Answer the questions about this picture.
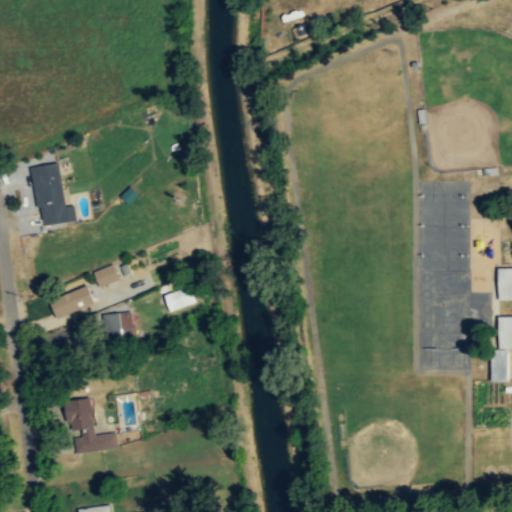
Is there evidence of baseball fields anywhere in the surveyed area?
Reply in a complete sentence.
Yes, there is a baseball field in the image.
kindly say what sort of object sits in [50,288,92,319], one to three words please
house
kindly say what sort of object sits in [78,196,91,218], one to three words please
swimming pool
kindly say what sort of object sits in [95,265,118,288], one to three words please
building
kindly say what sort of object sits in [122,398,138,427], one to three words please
swimming pool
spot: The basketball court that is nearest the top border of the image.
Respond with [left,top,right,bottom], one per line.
[420,182,470,212]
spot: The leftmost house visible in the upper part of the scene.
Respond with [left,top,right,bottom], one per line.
[29,162,76,225]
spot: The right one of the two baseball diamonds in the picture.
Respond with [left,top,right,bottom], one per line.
[420,30,512,171]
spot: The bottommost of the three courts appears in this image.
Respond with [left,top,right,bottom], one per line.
[420,240,470,270]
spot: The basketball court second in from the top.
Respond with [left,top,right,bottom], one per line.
[420,211,470,240]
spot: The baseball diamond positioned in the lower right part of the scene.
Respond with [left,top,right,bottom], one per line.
[340,384,464,488]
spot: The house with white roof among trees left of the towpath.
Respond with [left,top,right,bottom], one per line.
[165,290,197,311]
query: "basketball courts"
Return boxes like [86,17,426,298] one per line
[420,240,470,270]
[420,182,470,212]
[420,211,470,240]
